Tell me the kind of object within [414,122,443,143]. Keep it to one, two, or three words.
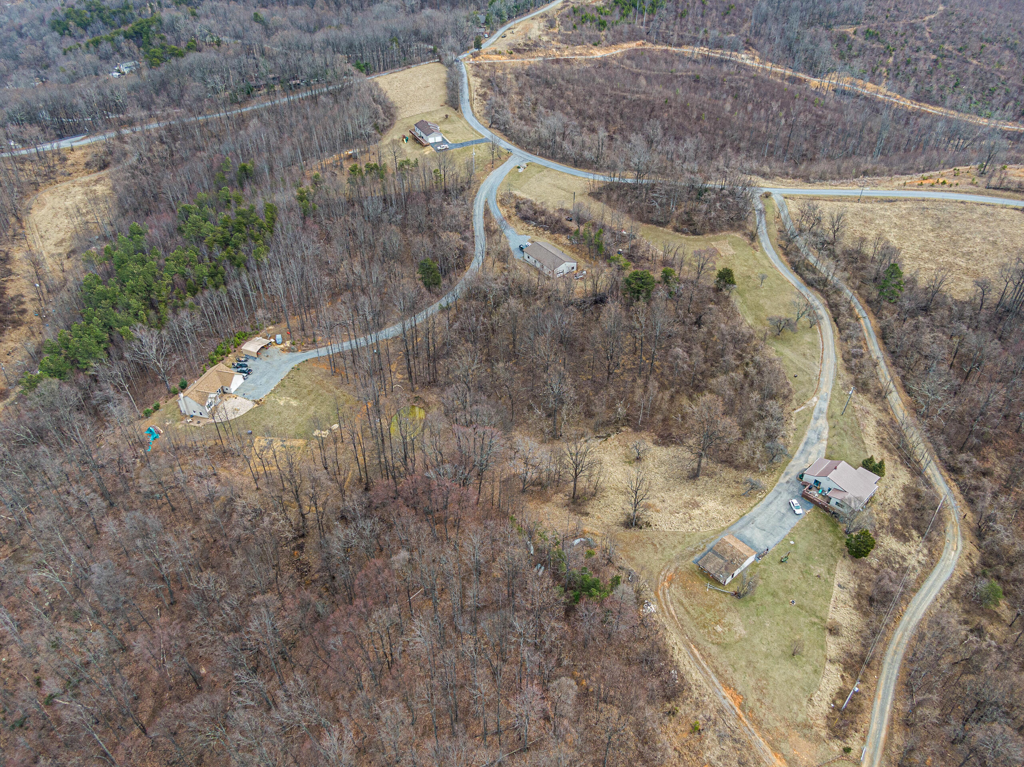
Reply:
house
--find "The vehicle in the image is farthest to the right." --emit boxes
[788,497,805,514]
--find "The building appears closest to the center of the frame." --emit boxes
[523,242,578,278]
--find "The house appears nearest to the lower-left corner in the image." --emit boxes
[173,361,244,419]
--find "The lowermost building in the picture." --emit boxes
[698,533,758,588]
